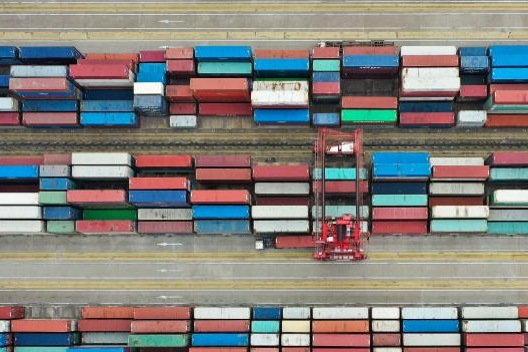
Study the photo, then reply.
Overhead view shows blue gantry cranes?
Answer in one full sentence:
No, the picture doesn't show any blue gantry crane.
